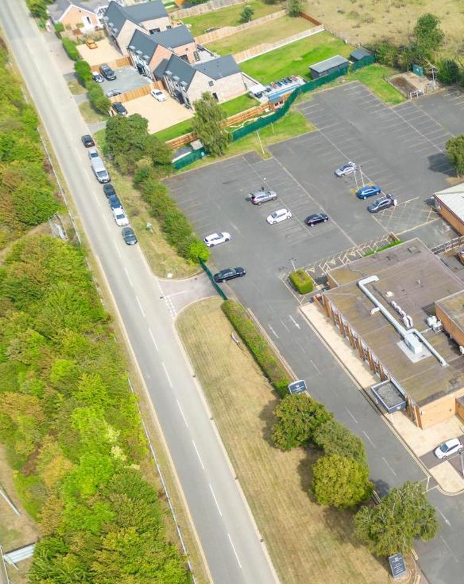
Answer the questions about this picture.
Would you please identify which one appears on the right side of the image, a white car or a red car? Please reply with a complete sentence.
The feature located on the right side of the image is a white car.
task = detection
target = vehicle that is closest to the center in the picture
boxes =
[214,267,247,283]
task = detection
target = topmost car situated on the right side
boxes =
[335,161,357,176]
